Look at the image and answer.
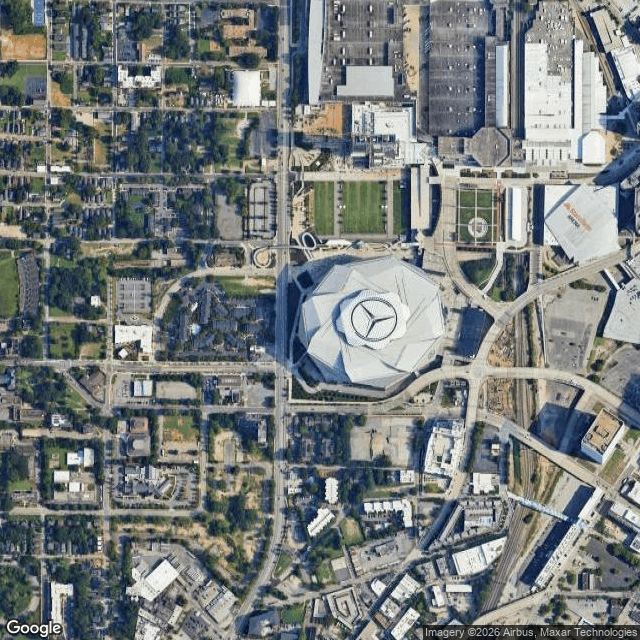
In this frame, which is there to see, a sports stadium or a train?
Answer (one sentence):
It is a sports stadium that can be seen here.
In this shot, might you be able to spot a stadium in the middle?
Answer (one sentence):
Yes, looking in the middle, one can make out a stadium.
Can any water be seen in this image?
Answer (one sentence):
No, the picture contains no water.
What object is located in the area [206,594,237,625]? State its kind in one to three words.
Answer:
building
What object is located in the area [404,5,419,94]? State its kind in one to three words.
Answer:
building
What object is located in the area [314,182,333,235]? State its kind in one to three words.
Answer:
sports field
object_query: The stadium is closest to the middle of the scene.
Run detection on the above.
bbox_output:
[298,256,444,399]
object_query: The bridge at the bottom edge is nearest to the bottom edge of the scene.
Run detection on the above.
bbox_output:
[462,584,566,640]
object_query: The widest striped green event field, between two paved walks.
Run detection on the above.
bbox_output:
[341,182,385,235]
